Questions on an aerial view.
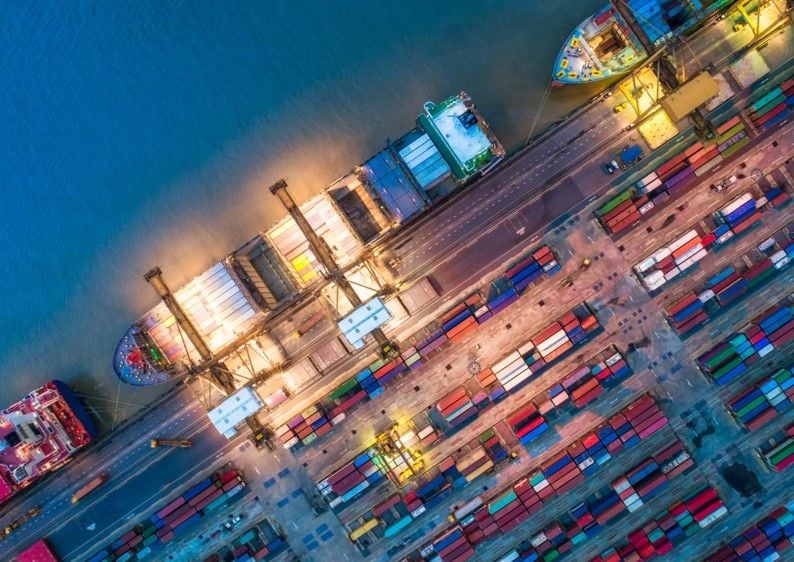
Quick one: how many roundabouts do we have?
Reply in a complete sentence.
The picture shows no roundabouts.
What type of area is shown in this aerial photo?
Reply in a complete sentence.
The picture captures a port.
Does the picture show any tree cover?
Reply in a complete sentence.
No, the scene doesn't show any tree cover.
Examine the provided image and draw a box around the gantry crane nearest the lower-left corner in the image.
[142,269,286,445]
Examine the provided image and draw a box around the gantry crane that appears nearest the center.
[270,183,395,356]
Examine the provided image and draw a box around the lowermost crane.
[368,415,429,494]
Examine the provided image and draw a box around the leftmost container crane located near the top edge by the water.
[594,0,721,139]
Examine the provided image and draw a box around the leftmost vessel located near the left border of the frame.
[0,382,106,498]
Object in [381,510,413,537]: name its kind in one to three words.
shipping container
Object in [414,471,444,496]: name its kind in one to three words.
shipping container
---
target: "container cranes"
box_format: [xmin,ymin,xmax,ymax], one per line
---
[142,269,286,445]
[594,0,721,139]
[707,0,794,61]
[368,415,429,494]
[270,183,395,356]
